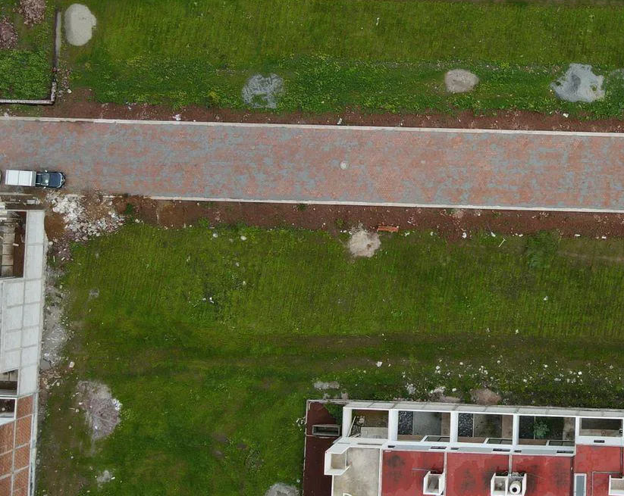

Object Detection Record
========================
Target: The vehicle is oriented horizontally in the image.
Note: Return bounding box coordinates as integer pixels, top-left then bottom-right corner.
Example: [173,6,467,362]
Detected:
[5,168,67,191]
